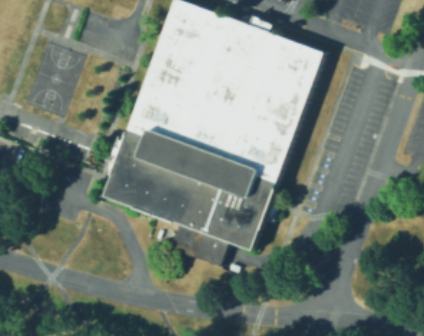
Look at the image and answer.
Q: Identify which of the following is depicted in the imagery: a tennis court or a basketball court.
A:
basketball court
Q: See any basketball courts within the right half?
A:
No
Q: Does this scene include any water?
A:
No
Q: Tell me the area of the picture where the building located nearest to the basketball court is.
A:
center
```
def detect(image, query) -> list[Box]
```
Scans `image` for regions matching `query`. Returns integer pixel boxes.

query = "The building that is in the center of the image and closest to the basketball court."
[102,0,324,266]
